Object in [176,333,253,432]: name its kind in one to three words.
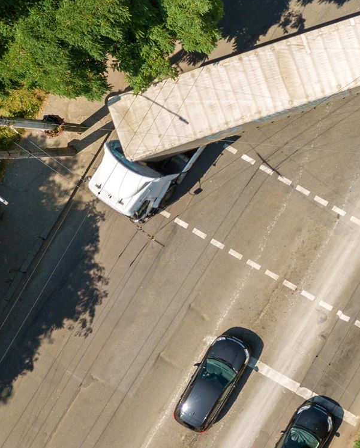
car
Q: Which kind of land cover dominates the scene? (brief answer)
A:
paved ground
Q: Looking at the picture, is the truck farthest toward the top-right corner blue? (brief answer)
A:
No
